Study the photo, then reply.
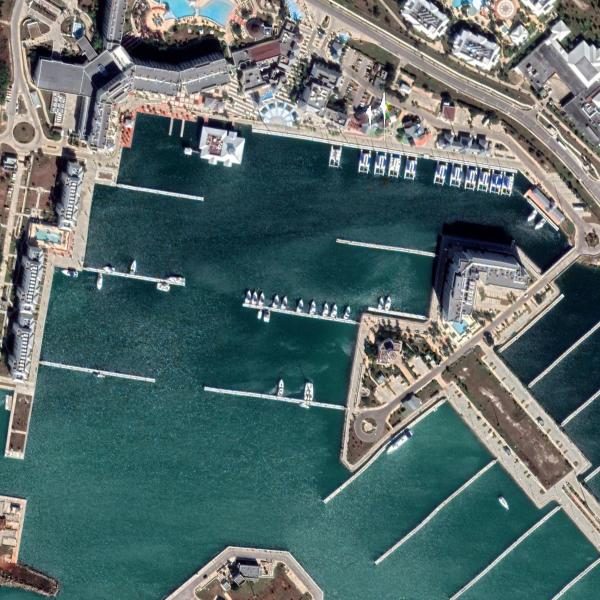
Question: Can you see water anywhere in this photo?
Yes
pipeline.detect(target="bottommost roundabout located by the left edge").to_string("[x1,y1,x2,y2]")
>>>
[5,113,43,151]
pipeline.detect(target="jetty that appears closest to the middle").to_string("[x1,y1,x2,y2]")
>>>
[241,302,359,324]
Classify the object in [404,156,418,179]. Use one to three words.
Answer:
boat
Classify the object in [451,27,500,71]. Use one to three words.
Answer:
house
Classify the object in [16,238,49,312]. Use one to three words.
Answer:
building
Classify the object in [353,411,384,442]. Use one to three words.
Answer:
roundabout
